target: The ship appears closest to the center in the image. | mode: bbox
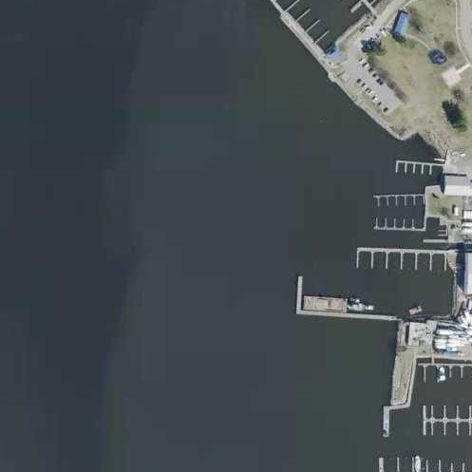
[304,296,347,312]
